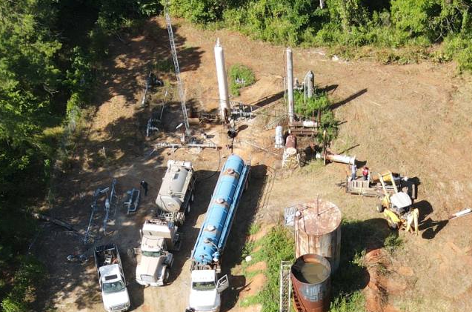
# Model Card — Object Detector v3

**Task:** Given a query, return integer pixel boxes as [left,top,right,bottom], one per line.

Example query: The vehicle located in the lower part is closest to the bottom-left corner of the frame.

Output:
[93,245,132,312]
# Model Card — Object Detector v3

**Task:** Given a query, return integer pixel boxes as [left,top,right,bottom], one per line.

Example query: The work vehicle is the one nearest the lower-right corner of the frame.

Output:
[374,177,429,238]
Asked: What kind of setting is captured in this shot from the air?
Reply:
industrial area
